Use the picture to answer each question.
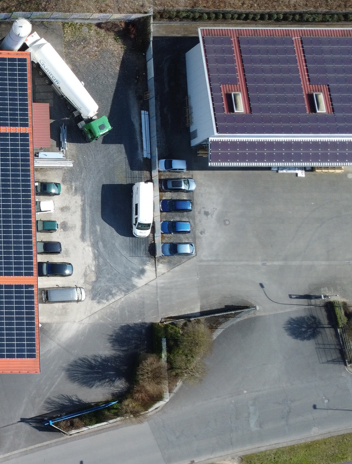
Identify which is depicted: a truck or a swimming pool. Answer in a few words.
truck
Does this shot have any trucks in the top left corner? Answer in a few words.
Yes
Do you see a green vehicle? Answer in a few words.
Yes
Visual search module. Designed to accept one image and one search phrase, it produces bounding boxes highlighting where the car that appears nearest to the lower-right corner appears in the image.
[162,242,197,256]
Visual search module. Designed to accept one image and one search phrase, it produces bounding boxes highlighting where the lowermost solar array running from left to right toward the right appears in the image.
[212,142,352,161]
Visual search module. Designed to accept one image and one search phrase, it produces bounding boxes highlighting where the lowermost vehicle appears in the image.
[41,286,85,303]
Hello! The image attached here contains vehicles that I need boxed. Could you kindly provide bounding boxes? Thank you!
[162,242,197,256]
[36,239,63,255]
[158,176,196,193]
[131,183,154,237]
[35,219,61,234]
[36,261,75,277]
[157,158,188,173]
[34,199,54,213]
[70,111,111,142]
[34,181,61,196]
[161,219,191,235]
[160,198,192,213]
[41,286,85,303]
